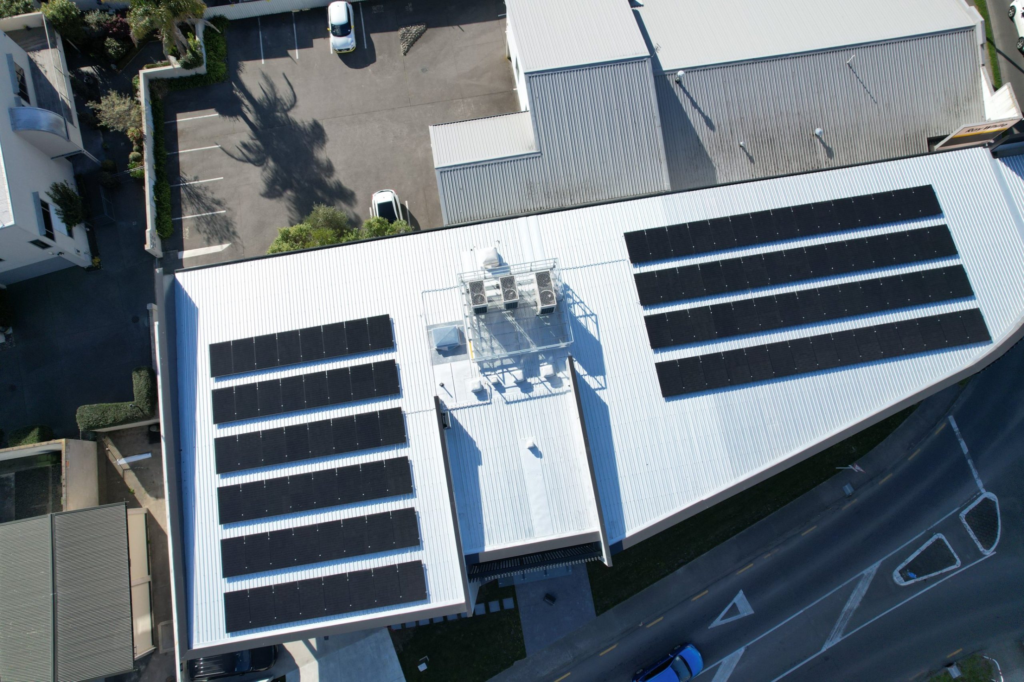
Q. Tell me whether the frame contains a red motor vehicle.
No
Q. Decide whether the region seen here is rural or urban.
urban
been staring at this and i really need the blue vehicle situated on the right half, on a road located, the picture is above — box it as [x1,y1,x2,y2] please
[630,641,705,682]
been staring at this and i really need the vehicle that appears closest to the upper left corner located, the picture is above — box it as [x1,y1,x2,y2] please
[326,0,360,56]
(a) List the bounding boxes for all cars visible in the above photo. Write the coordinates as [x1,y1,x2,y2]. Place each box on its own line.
[179,644,280,680]
[1007,0,1024,52]
[372,189,406,235]
[326,0,360,56]
[630,641,705,682]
